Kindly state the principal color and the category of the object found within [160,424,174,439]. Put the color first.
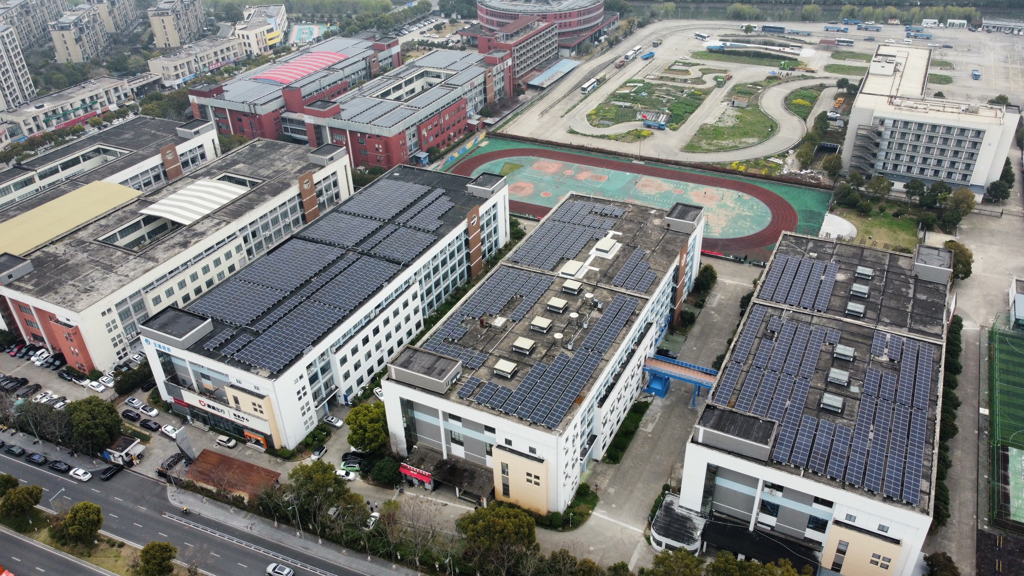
white car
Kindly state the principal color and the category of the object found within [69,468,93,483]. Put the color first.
white car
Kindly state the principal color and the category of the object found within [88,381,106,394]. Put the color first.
white vehicle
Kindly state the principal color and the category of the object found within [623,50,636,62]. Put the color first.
white vehicle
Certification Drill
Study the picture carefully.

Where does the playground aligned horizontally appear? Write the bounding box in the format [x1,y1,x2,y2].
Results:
[284,25,340,44]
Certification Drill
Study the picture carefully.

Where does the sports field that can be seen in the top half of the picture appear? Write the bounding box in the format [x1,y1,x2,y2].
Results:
[433,135,832,270]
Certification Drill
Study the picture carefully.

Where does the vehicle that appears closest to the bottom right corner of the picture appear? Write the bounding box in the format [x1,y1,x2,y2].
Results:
[656,346,678,361]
